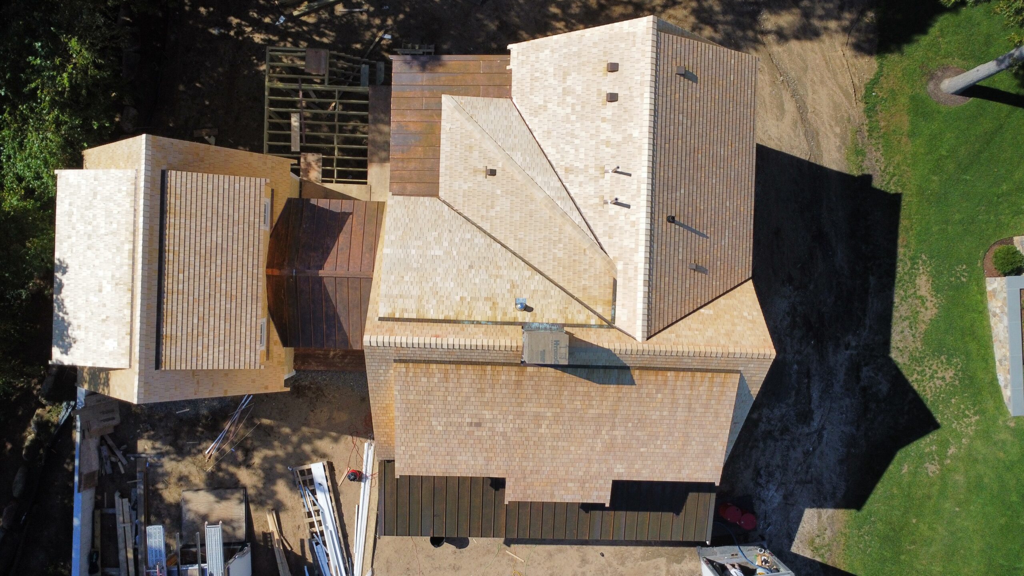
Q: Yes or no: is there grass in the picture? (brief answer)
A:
Yes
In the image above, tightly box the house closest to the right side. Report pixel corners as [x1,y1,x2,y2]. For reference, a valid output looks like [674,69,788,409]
[364,16,776,546]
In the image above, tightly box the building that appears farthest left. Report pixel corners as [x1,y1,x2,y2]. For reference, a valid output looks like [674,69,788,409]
[46,135,302,402]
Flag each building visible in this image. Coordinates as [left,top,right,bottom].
[364,16,776,546]
[46,135,302,402]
